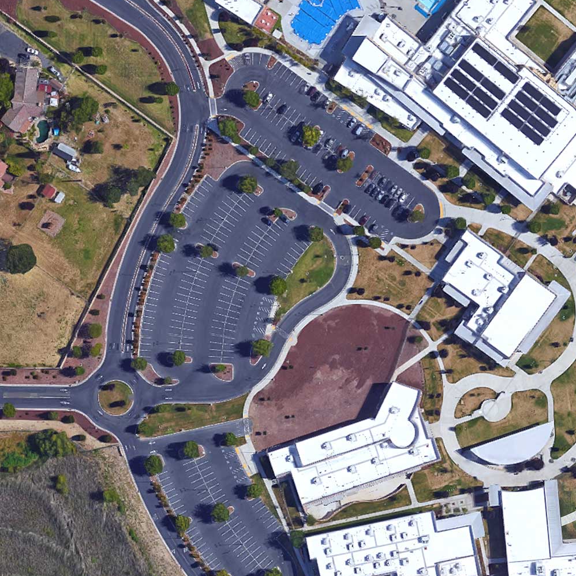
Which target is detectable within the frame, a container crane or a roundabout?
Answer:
roundabout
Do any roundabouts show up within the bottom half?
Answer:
Yes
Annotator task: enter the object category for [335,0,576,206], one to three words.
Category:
building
